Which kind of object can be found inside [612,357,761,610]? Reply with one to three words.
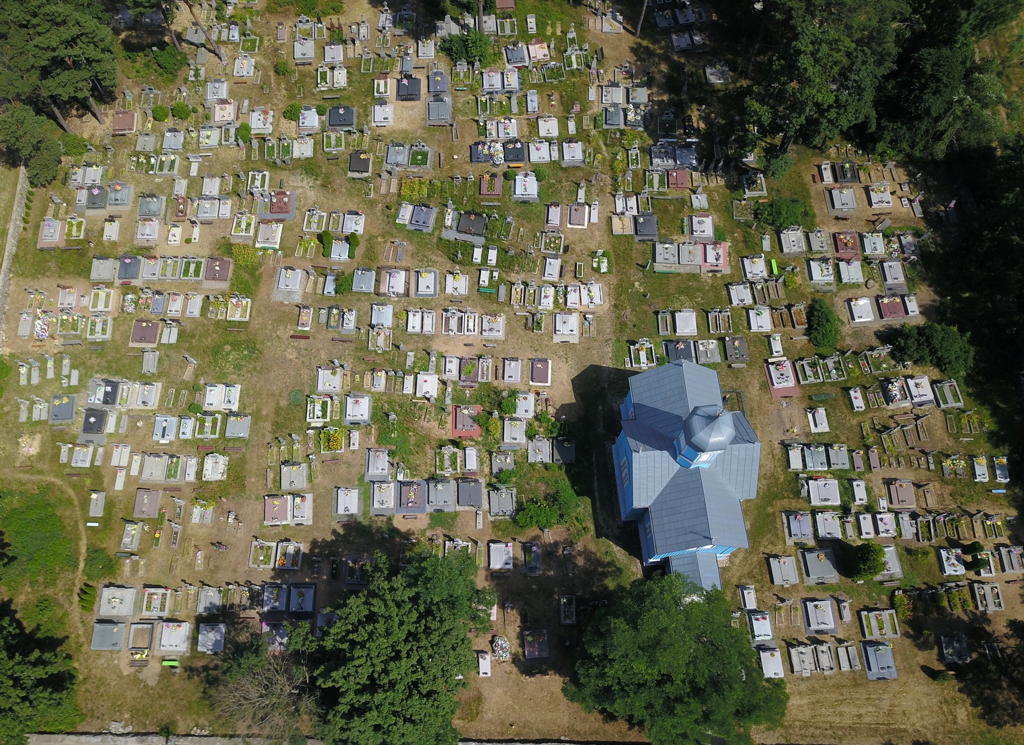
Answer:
church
